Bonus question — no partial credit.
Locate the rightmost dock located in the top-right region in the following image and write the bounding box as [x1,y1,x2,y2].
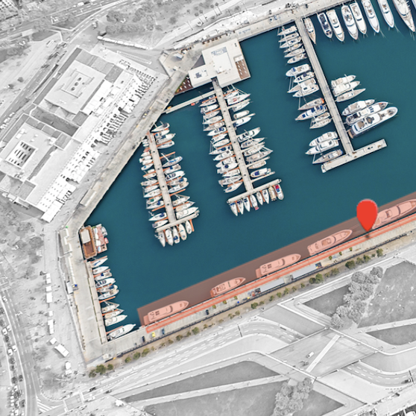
[295,20,387,172]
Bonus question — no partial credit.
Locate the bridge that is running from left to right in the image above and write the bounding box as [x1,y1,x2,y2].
[271,328,378,379]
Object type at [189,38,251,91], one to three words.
building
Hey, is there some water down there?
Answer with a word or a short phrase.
Yes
